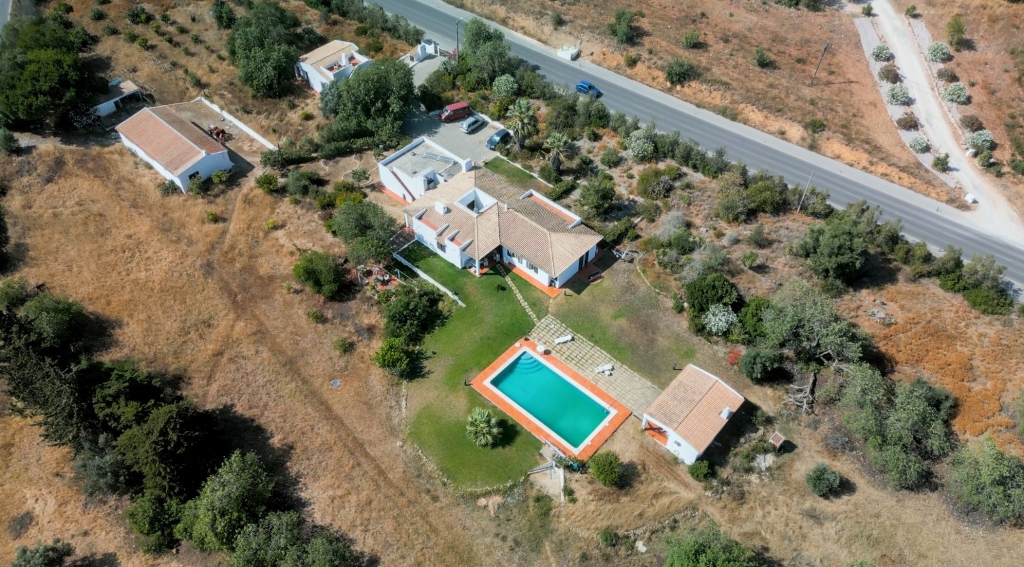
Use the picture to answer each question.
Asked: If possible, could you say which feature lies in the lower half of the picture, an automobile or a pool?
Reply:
pool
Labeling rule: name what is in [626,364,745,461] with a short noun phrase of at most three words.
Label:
building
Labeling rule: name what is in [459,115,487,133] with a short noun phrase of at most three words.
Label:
car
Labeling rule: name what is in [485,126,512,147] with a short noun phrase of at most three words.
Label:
car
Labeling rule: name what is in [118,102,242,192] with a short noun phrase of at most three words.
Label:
barn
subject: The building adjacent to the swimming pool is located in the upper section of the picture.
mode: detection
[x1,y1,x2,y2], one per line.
[375,137,606,299]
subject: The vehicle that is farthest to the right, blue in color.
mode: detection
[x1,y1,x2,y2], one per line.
[576,77,601,94]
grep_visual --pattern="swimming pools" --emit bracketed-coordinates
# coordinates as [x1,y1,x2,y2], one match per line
[469,337,633,470]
